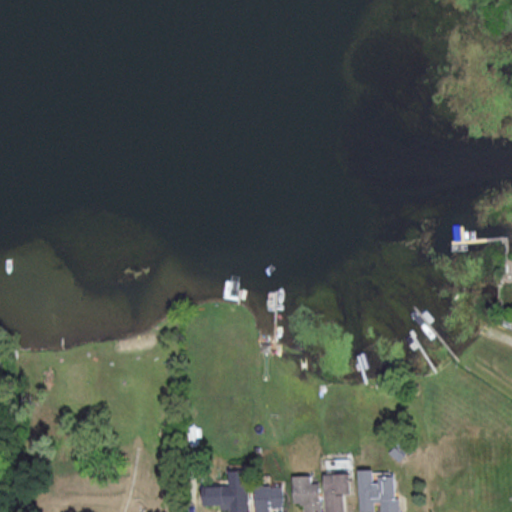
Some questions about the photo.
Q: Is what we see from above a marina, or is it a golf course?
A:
marina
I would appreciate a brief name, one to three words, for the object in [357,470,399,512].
house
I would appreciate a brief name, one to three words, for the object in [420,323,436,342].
boat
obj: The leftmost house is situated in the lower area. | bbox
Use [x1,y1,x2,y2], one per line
[201,472,247,512]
